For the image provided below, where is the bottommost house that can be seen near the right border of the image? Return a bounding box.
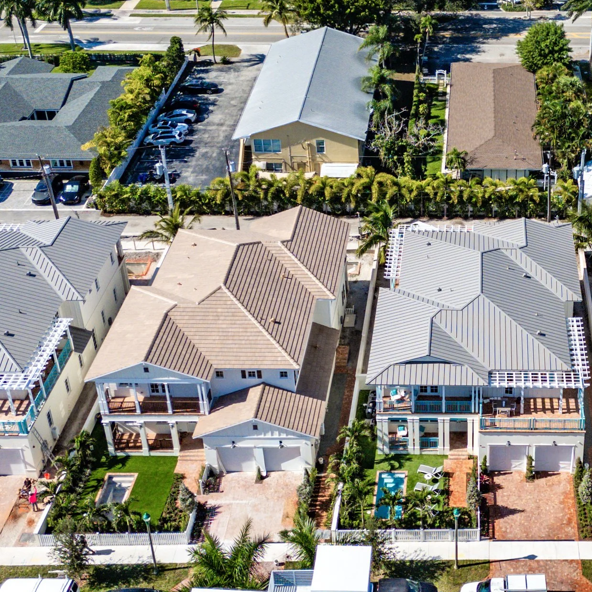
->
[364,216,592,473]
